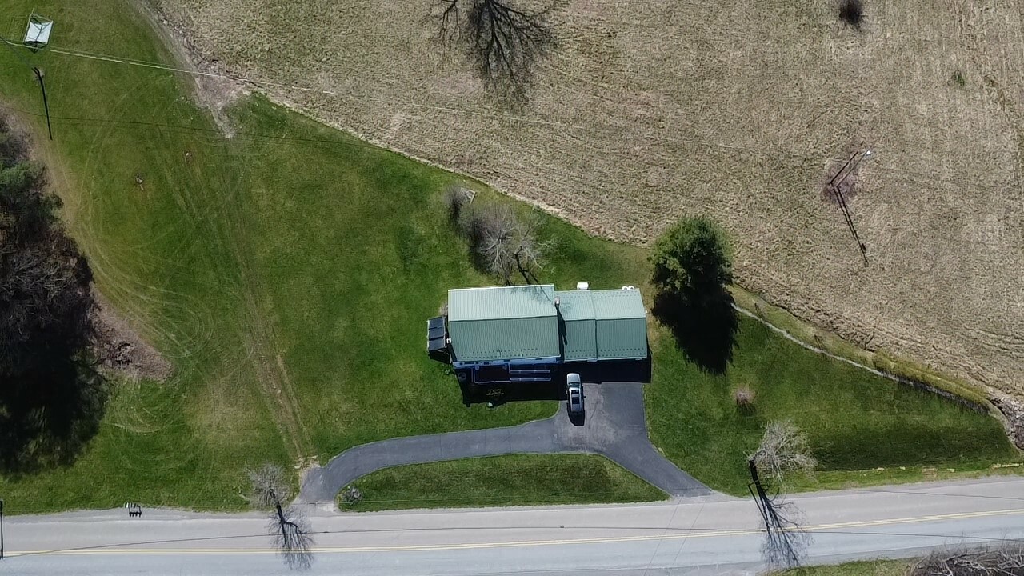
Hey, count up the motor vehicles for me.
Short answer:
1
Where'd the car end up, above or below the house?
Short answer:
below it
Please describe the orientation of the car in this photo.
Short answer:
from top to bottom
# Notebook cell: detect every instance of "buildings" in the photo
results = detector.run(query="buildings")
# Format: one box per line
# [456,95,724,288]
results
[447,284,648,371]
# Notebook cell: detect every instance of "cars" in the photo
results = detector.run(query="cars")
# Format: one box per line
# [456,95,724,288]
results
[566,372,586,415]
